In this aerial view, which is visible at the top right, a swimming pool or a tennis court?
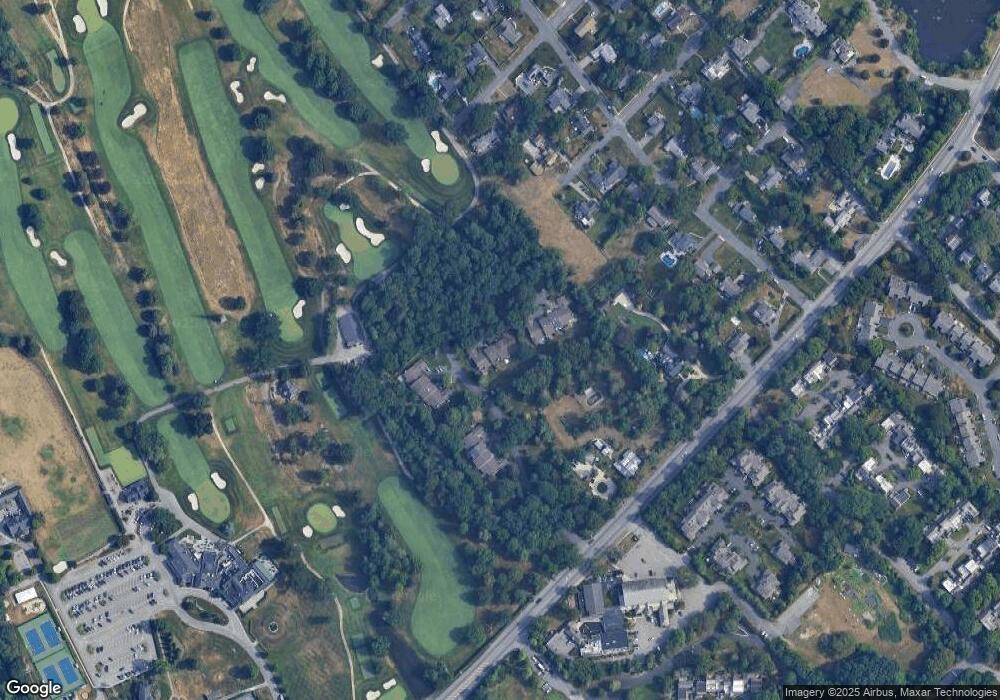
swimming pool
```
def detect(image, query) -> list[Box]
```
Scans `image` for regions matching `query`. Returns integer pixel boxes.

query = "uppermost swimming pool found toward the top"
[796,40,813,57]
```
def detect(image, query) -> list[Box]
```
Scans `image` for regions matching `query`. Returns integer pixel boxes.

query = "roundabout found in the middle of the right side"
[888,312,924,348]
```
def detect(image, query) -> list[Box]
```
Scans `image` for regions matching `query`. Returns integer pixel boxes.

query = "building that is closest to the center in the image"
[466,330,520,376]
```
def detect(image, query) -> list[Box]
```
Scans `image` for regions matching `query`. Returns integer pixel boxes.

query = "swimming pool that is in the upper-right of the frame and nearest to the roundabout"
[880,154,900,180]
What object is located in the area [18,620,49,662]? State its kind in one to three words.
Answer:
tennis court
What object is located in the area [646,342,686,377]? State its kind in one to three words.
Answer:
house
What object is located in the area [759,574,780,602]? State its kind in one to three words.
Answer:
building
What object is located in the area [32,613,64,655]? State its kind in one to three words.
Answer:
tennis court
